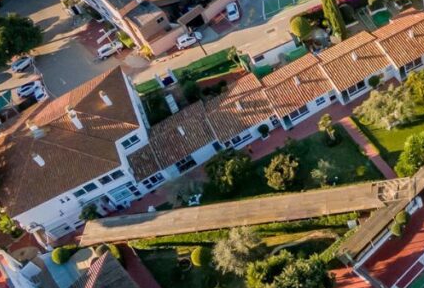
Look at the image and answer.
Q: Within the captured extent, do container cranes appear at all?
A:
No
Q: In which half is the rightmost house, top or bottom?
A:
top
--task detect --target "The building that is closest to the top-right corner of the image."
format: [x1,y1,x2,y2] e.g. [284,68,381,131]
[372,11,424,83]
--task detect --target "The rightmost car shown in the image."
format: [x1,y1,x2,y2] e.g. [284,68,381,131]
[225,1,240,23]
